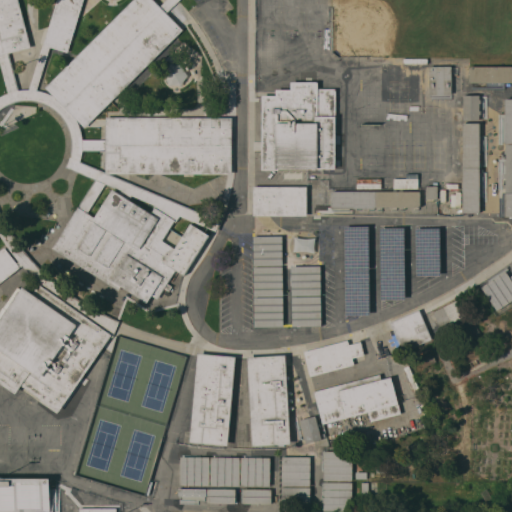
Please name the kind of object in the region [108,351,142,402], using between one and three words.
tennis court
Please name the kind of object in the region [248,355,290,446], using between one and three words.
building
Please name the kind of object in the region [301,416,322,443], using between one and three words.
shed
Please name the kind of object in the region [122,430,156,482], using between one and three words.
tennis court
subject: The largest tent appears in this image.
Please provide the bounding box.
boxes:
[294,238,316,253]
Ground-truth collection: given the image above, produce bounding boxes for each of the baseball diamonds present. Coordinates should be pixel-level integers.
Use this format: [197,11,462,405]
[332,0,512,66]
